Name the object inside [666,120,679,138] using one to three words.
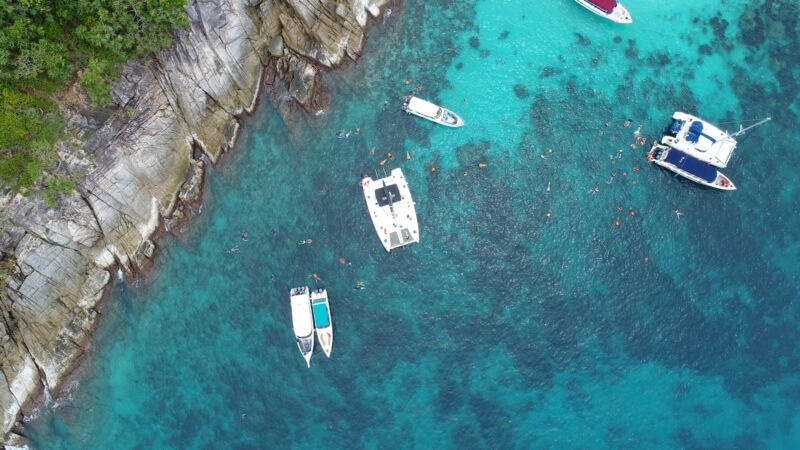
boat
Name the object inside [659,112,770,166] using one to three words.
boat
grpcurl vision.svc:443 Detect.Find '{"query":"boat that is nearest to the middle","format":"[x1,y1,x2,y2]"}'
[363,169,419,250]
